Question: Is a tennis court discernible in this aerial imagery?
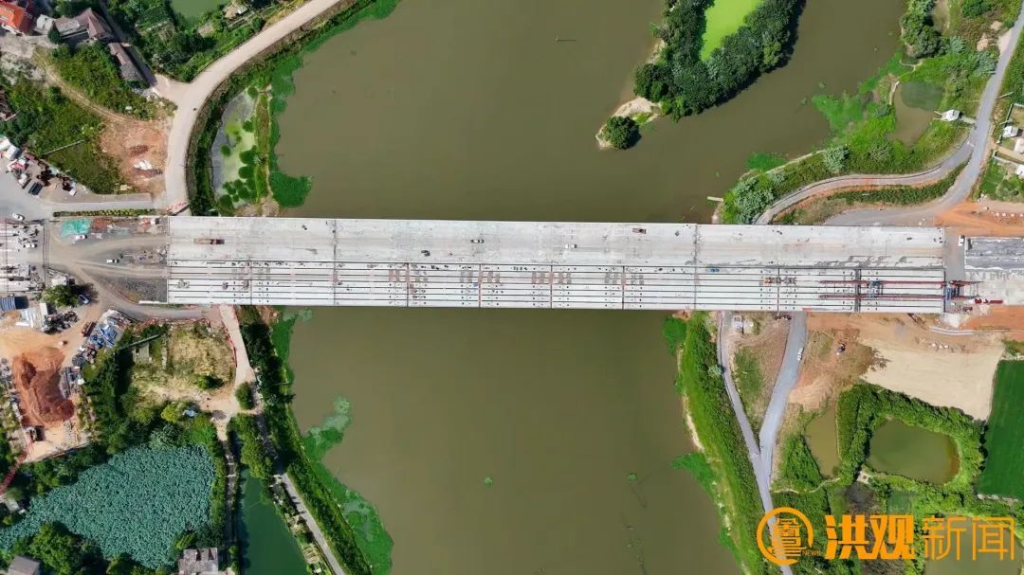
No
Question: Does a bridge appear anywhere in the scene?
Yes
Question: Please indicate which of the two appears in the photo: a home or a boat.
home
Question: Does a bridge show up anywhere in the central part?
Yes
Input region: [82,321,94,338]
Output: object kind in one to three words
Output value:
vehicle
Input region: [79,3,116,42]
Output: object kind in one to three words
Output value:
house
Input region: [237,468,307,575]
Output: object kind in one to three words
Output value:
pond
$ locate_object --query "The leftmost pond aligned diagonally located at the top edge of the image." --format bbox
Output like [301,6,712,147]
[702,0,760,59]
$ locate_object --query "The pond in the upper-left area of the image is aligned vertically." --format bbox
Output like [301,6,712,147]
[212,89,258,207]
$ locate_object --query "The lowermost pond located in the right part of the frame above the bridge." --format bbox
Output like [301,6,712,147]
[890,77,944,145]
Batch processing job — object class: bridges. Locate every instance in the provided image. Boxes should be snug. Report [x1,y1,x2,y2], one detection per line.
[164,216,948,314]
